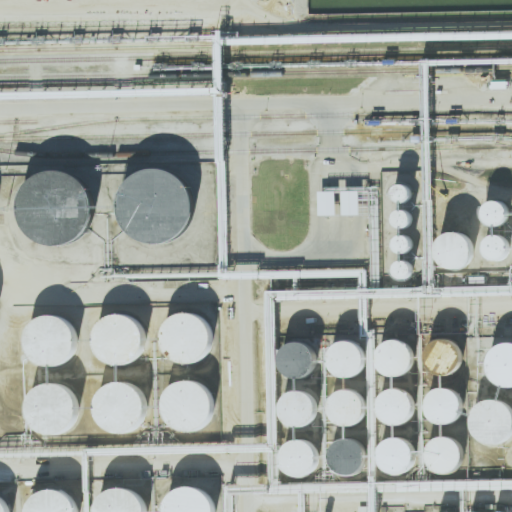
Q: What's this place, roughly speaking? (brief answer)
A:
industrial area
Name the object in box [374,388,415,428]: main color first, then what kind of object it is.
white storage tank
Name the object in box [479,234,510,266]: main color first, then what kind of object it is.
white storage tank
